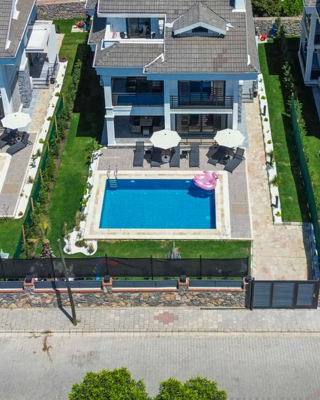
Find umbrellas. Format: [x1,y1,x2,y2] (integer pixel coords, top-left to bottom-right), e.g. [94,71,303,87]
[148,129,181,163]
[0,111,32,144]
[212,127,246,161]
